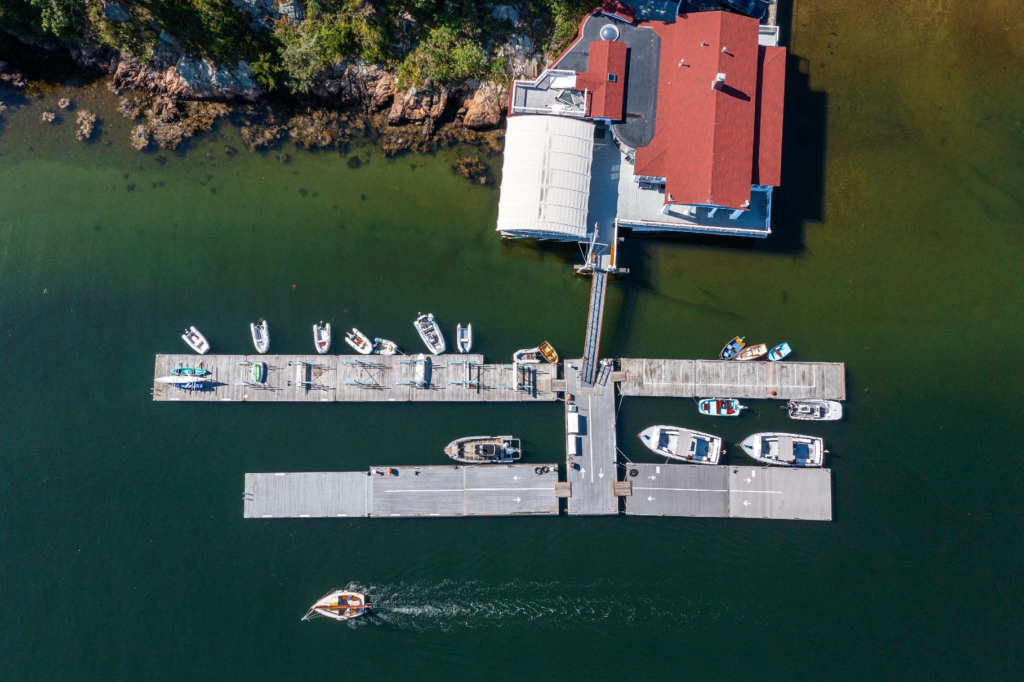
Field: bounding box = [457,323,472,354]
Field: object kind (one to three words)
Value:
boat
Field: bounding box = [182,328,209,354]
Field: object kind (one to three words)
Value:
boat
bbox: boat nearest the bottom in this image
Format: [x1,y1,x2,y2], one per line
[301,590,371,621]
